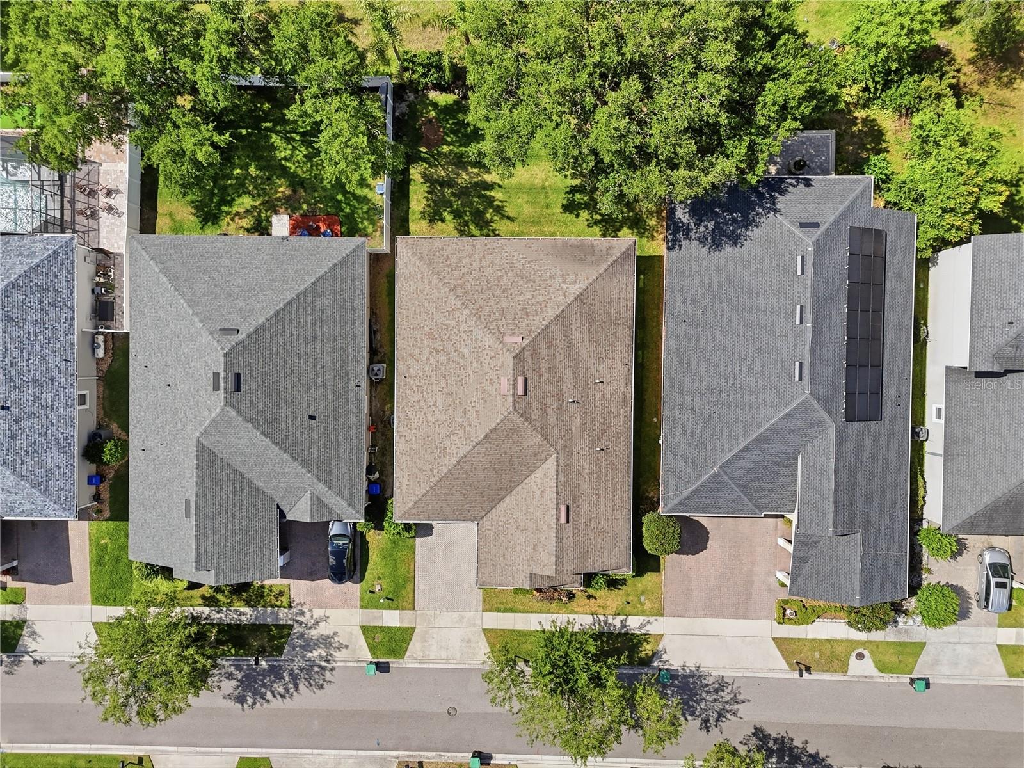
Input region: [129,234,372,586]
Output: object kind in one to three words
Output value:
house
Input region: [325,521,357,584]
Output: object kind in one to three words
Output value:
car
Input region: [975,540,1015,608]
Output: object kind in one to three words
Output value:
car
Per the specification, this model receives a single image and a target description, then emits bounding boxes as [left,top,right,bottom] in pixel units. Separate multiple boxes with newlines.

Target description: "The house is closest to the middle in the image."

[393,236,638,591]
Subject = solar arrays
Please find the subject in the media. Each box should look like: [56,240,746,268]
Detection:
[843,226,887,420]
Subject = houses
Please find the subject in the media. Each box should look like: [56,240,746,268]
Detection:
[0,232,101,574]
[922,232,1024,536]
[129,234,372,586]
[659,175,918,607]
[393,236,638,591]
